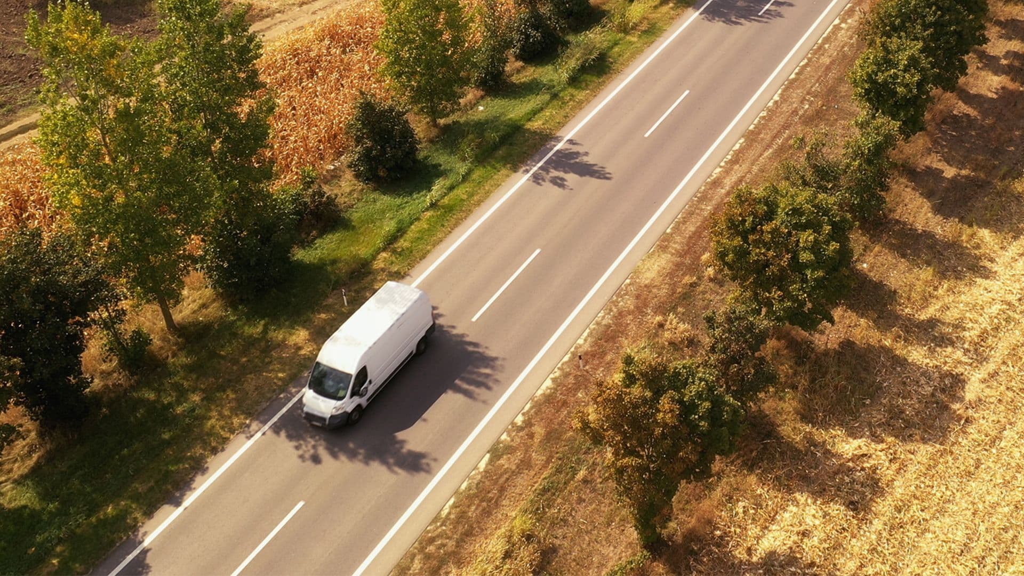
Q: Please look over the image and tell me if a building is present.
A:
No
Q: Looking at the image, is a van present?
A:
Yes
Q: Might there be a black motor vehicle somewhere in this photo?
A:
No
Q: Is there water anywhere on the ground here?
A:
No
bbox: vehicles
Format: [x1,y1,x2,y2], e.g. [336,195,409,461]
[296,279,436,434]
